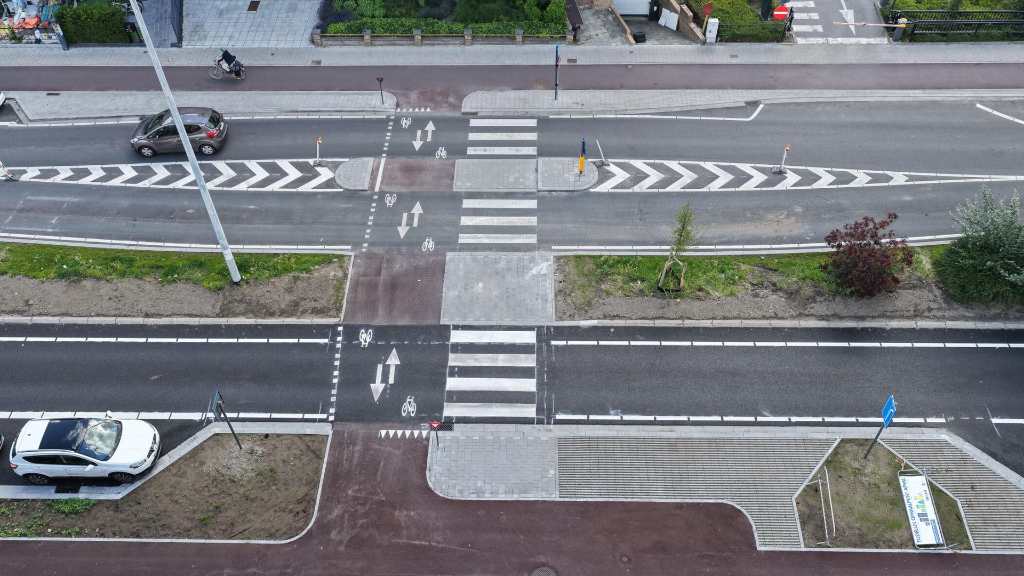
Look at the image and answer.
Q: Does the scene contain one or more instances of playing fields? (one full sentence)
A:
No, I can see no playing field in this picture.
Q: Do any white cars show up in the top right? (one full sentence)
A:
No, the scene shows no white car in the top right.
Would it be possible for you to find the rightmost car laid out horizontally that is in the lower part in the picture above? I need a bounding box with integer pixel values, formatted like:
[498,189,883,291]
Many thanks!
[7,407,161,485]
